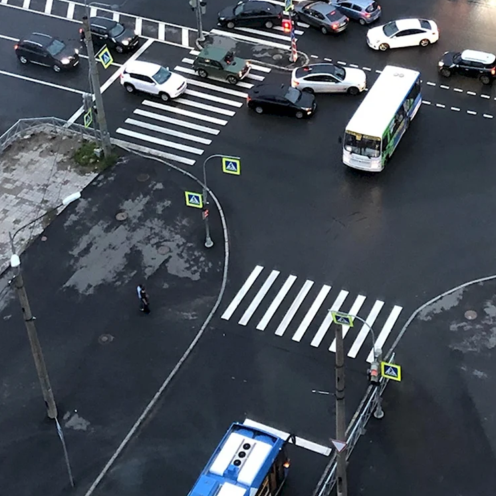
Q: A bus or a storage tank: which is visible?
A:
bus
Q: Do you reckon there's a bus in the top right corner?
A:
Yes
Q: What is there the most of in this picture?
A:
paved ground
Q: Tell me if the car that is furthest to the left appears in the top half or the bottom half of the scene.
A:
top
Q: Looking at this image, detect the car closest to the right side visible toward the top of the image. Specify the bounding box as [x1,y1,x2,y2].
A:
[439,48,496,82]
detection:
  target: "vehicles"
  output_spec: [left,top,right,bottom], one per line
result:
[242,81,319,119]
[291,62,367,97]
[288,0,354,31]
[75,13,145,53]
[439,48,496,82]
[117,57,189,102]
[11,28,81,69]
[336,66,421,174]
[193,426,304,496]
[216,0,286,31]
[366,18,440,52]
[192,43,252,84]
